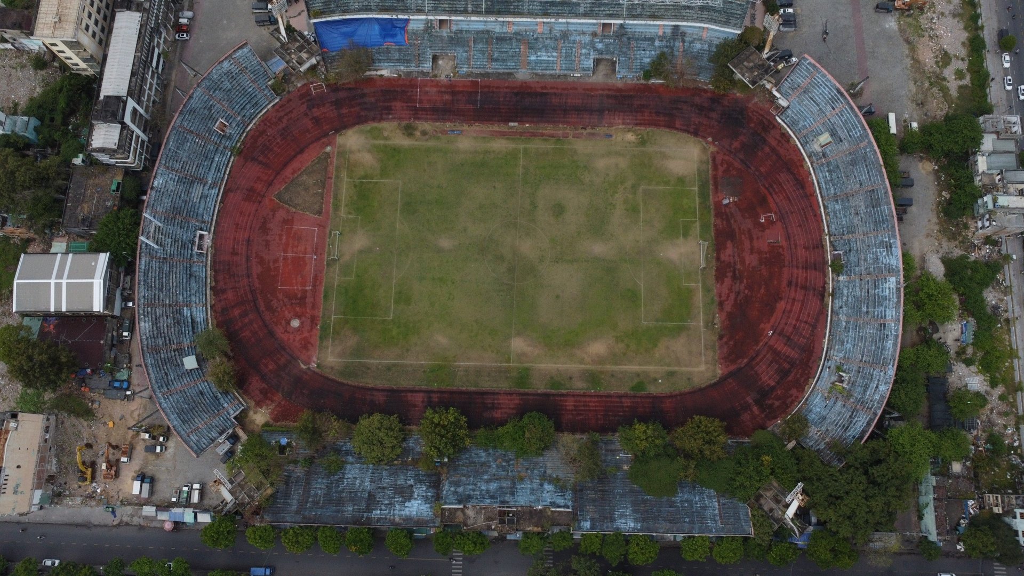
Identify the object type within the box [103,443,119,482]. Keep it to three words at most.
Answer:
work vehicle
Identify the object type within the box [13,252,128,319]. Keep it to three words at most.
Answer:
building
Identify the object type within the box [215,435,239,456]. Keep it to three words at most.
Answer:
truck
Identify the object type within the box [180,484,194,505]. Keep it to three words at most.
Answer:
vehicle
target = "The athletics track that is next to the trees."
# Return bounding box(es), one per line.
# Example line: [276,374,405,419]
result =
[211,78,827,438]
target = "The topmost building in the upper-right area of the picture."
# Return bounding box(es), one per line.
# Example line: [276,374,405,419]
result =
[725,46,776,96]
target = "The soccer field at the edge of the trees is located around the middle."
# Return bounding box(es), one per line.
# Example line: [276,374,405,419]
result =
[315,121,721,396]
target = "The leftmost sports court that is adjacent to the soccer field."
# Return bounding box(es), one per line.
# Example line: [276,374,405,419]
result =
[275,226,317,289]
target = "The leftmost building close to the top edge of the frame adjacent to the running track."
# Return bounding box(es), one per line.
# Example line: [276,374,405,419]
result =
[86,0,176,170]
